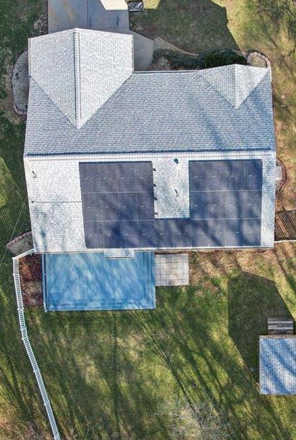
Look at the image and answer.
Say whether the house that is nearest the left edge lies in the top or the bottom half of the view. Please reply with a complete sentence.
You can find the house that is nearest the left edge in the top half.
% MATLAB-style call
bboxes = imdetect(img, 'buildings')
[24,28,276,259]
[258,318,296,395]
